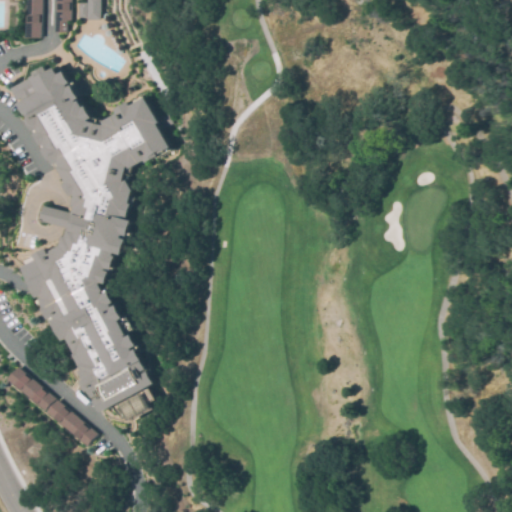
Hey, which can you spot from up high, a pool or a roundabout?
pool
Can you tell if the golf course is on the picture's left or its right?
right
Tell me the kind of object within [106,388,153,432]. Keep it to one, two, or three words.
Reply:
building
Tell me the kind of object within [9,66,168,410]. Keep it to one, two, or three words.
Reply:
building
